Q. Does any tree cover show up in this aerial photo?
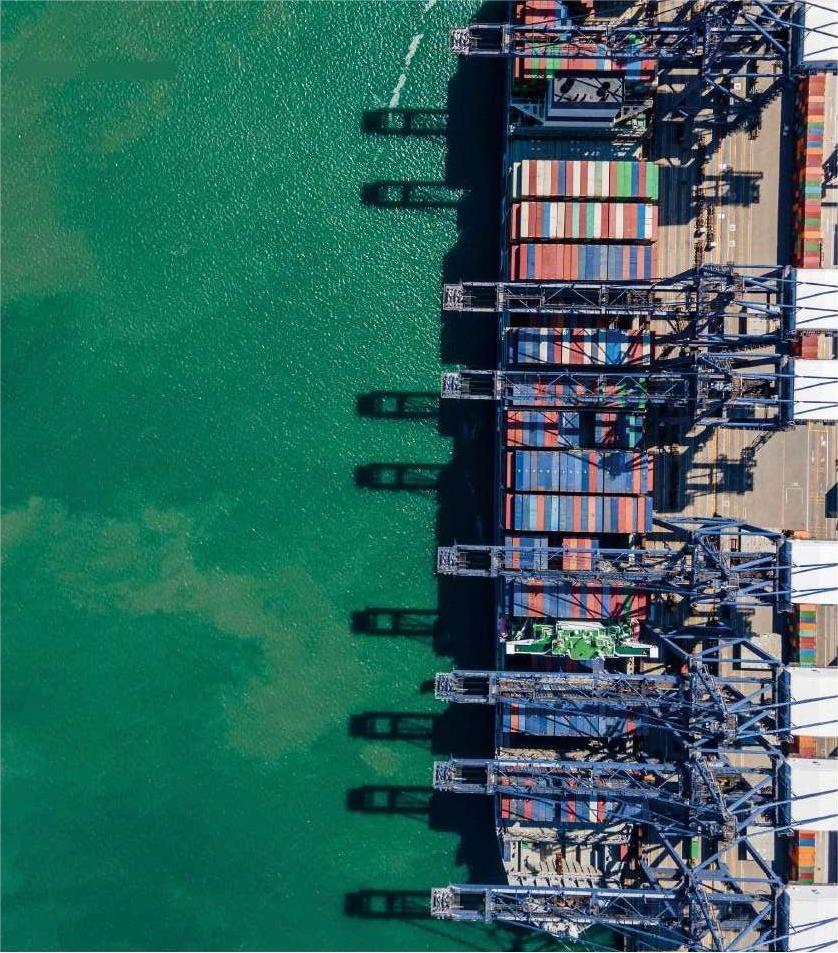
No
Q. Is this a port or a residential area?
port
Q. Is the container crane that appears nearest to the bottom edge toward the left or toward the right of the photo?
right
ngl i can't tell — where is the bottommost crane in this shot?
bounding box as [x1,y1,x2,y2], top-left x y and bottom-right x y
[430,808,838,953]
